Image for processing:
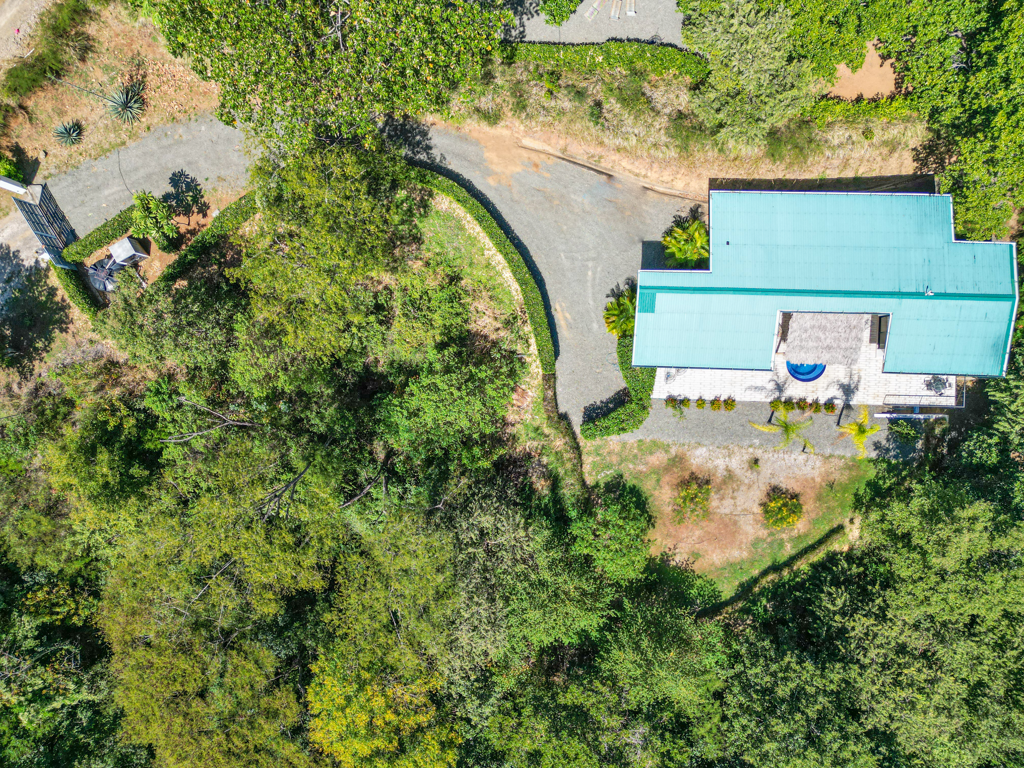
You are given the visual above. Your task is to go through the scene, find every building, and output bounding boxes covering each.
[629,188,1022,380]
